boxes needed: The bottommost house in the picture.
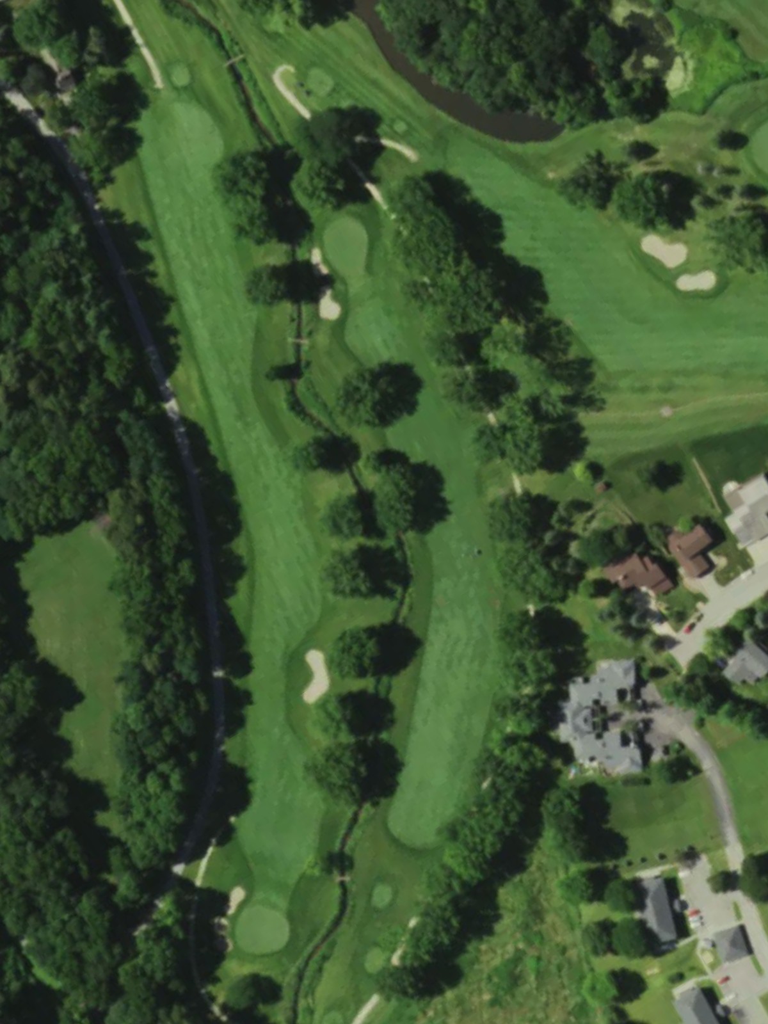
[676,988,721,1024]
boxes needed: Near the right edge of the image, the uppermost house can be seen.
[724,474,768,546]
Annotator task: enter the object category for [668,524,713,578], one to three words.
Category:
house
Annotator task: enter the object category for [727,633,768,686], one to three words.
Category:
house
